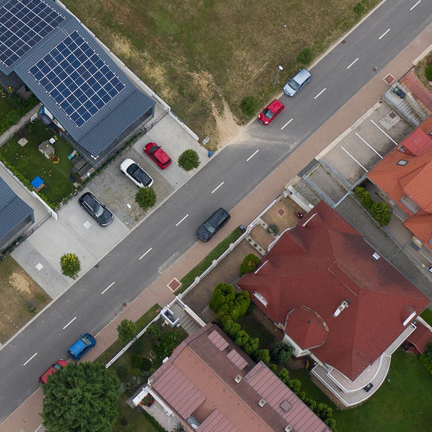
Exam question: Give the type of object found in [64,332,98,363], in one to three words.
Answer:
car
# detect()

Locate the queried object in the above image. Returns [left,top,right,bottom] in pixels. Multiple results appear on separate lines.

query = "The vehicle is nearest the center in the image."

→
[194,205,234,242]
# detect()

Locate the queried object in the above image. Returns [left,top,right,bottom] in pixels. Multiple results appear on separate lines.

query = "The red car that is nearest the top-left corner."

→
[141,141,176,172]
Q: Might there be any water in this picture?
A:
No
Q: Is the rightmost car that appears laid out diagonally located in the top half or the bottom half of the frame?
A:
top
